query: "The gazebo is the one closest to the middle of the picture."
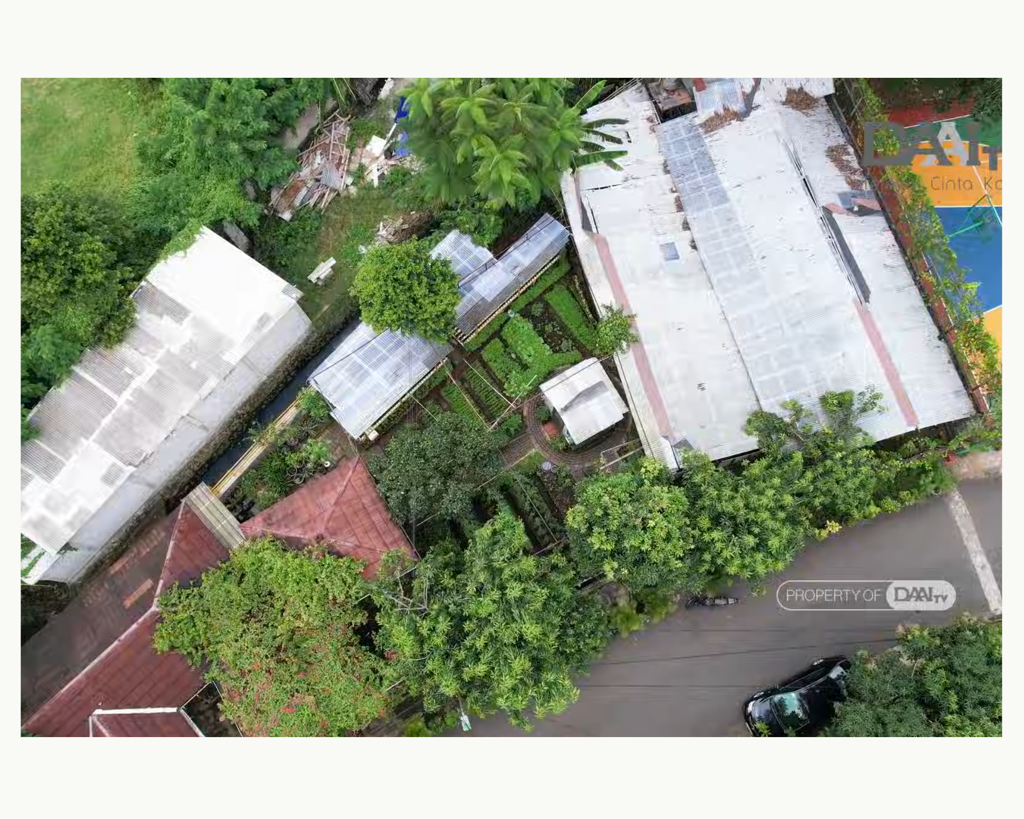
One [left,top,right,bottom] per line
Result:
[541,358,629,444]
